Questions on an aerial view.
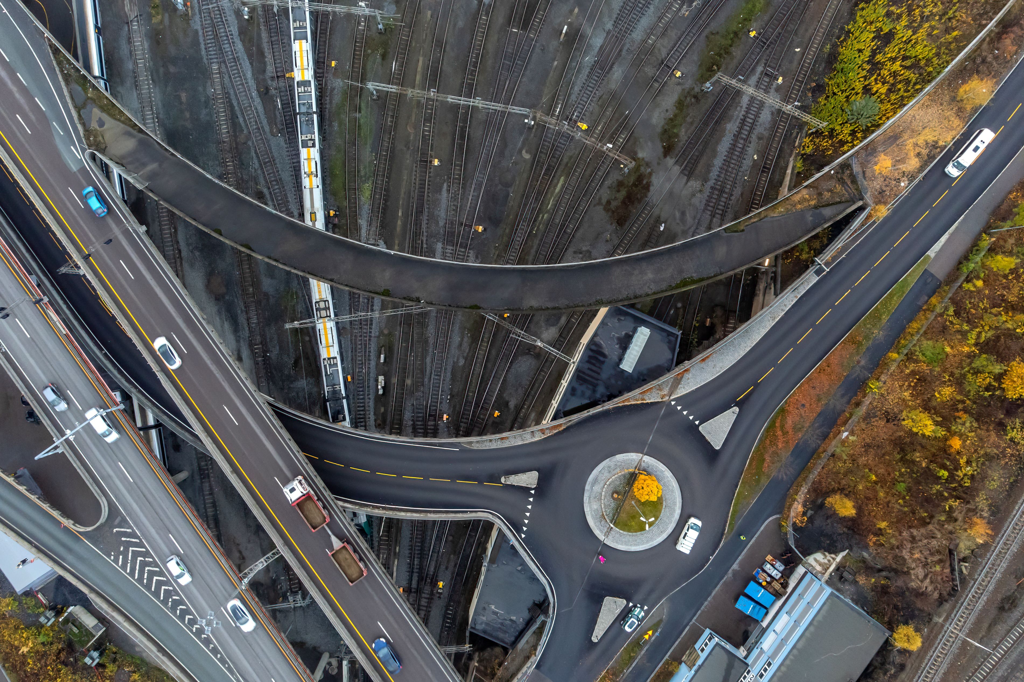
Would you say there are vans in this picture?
Yes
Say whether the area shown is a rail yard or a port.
rail yard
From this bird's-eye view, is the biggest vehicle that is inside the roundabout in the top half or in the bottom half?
bottom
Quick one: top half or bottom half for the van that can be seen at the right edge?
top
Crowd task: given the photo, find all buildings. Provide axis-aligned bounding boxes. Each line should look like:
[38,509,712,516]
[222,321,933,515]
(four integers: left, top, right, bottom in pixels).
[737,572,891,682]
[543,305,682,423]
[0,534,55,597]
[59,600,112,649]
[469,527,548,648]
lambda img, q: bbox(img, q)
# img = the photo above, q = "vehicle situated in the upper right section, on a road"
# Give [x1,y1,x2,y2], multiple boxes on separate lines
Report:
[938,126,996,180]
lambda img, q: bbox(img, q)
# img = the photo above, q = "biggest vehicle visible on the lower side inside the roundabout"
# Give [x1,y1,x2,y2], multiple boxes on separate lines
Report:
[677,517,703,555]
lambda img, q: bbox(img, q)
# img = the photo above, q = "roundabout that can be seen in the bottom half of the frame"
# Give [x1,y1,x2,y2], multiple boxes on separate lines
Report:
[432,388,755,682]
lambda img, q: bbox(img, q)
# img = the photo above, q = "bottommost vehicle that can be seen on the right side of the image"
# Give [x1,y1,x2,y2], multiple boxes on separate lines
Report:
[623,607,645,635]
